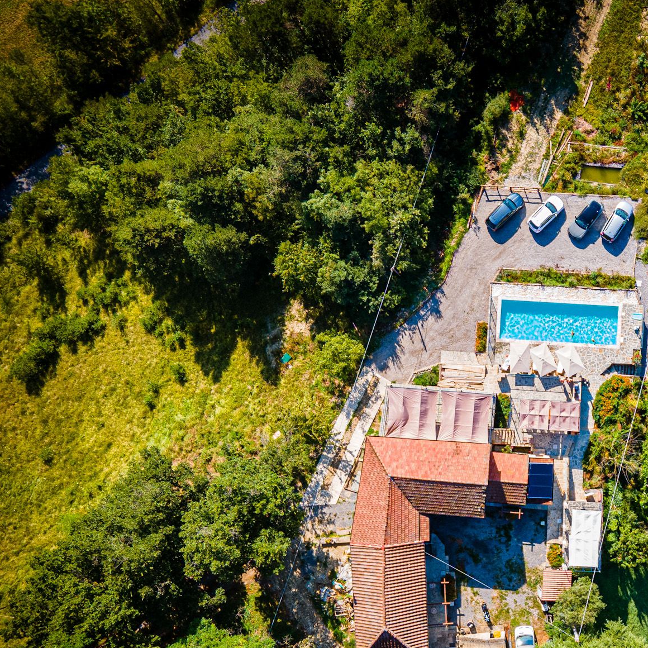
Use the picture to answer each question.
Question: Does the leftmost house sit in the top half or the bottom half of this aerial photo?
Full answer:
The leftmost house sits in the bottom half of the picture.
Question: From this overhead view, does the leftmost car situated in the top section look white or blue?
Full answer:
In this view, the leftmost car situated in the top section is blue.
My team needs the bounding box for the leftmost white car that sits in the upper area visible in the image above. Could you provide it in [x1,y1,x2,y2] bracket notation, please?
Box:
[526,196,563,235]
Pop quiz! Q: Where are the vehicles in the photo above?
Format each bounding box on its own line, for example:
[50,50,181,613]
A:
[513,623,537,648]
[568,198,604,241]
[526,196,563,235]
[482,603,492,621]
[599,201,631,244]
[485,192,524,234]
